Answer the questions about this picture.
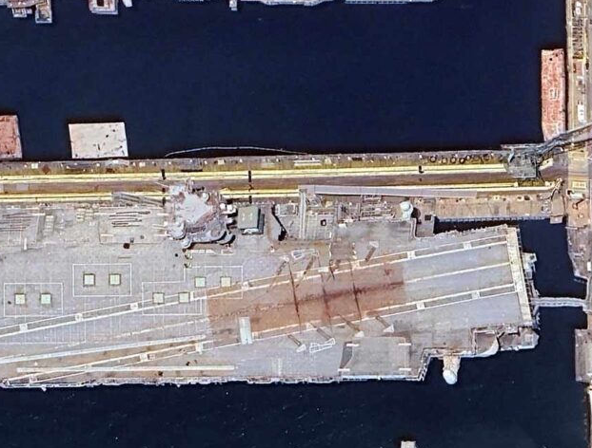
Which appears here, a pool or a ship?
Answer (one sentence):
Of the two, only a ship appears.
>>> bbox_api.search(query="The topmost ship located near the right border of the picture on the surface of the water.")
[540,46,567,140]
